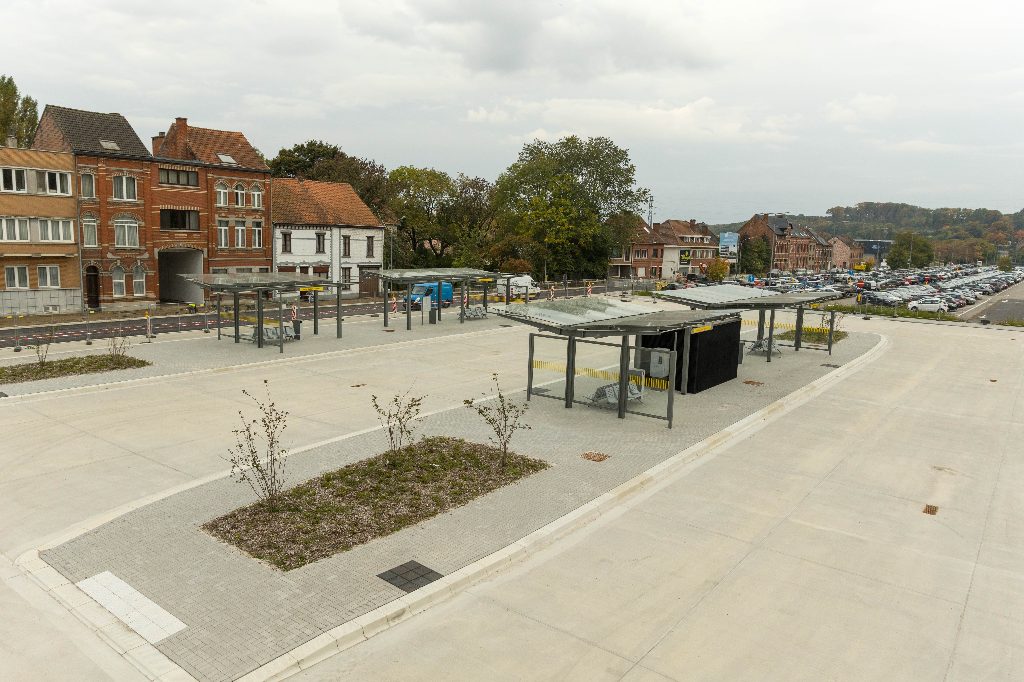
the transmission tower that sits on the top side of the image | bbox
[646,196,658,220]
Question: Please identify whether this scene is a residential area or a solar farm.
residential area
